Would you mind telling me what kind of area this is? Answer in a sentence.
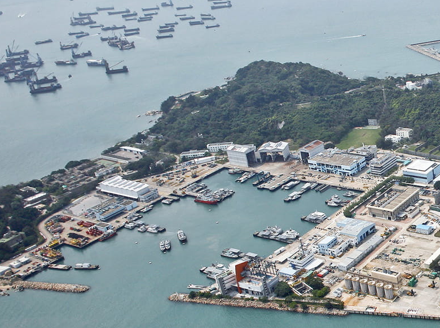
This looks like a port.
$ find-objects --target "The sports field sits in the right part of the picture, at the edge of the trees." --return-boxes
[337,127,379,150]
